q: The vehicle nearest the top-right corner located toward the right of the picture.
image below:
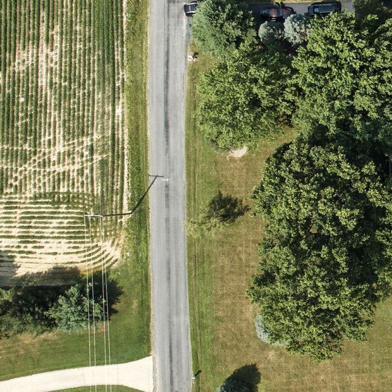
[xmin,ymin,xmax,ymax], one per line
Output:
[309,1,343,17]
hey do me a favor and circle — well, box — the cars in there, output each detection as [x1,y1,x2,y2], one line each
[261,6,296,21]
[309,1,343,17]
[180,1,200,17]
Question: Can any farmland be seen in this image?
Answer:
Yes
